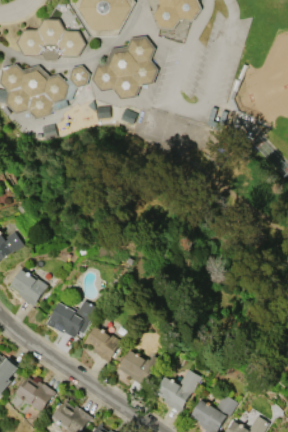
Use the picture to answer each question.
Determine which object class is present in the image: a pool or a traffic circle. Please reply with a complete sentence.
The image shows a pool.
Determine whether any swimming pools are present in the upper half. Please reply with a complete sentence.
No, no swimming pool appears in the upper half.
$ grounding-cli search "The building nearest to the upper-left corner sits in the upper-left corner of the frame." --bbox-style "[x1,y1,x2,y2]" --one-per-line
[18,10,83,60]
